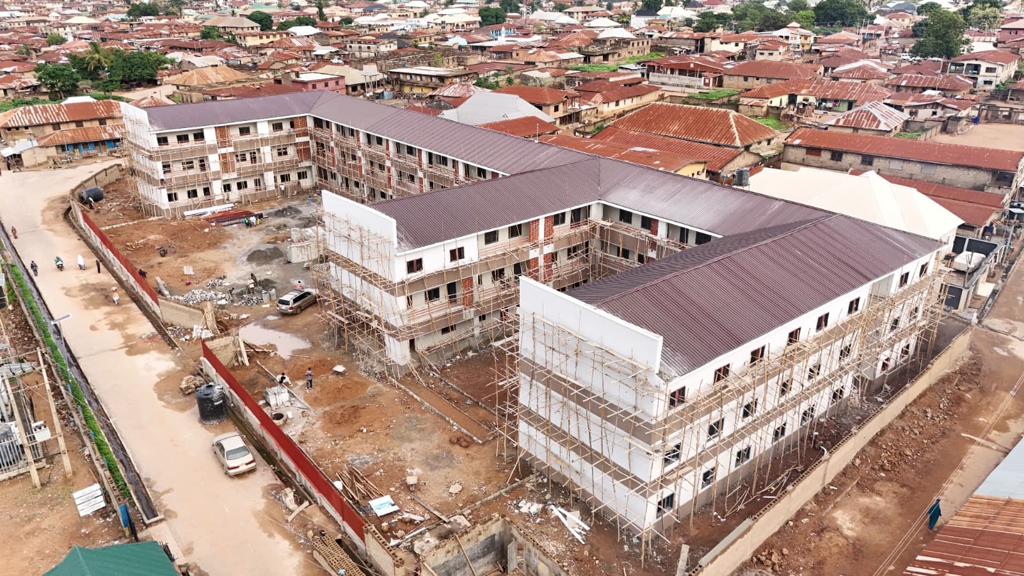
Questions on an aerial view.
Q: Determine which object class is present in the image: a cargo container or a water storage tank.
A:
water storage tank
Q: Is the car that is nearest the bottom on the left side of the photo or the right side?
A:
left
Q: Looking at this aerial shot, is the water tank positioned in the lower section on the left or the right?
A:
left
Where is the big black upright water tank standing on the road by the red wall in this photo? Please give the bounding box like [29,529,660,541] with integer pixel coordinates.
[193,381,226,425]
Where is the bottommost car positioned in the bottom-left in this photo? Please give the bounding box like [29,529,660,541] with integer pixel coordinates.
[209,428,250,474]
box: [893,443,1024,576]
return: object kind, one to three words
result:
shed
